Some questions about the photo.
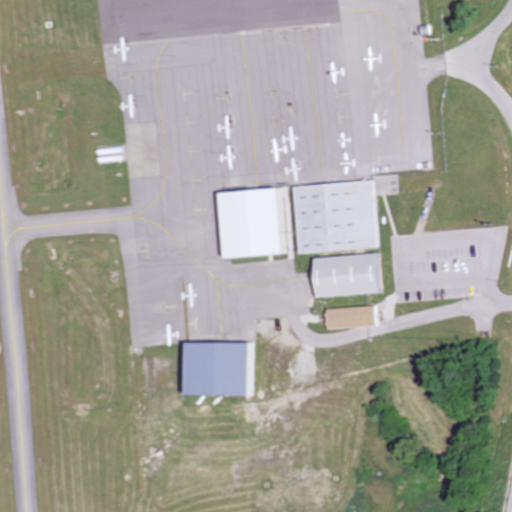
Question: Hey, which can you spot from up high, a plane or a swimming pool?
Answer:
plane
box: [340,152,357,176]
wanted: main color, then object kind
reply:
white airplane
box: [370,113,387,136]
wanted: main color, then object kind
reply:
white airplane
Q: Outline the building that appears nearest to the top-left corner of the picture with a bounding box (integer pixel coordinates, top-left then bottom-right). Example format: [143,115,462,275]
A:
[220,188,288,258]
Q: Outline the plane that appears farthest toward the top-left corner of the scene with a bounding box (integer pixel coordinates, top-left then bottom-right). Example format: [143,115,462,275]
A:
[112,37,131,62]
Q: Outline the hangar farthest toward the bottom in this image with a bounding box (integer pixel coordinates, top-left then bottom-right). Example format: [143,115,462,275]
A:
[182,342,254,396]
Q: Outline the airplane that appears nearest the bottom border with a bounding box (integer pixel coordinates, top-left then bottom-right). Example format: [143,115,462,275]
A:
[164,322,182,347]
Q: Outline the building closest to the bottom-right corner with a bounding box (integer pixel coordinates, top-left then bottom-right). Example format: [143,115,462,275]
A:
[324,306,378,329]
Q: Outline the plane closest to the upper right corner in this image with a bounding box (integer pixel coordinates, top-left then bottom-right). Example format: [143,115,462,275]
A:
[364,48,382,71]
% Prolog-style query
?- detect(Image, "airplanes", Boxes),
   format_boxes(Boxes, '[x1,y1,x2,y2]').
[178,283,198,308]
[216,115,235,140]
[270,138,288,163]
[282,157,302,182]
[164,322,182,347]
[119,94,139,118]
[217,145,237,170]
[370,113,387,136]
[112,37,131,62]
[340,152,357,176]
[364,48,382,71]
[280,126,300,151]
[326,61,344,84]
[338,132,351,148]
